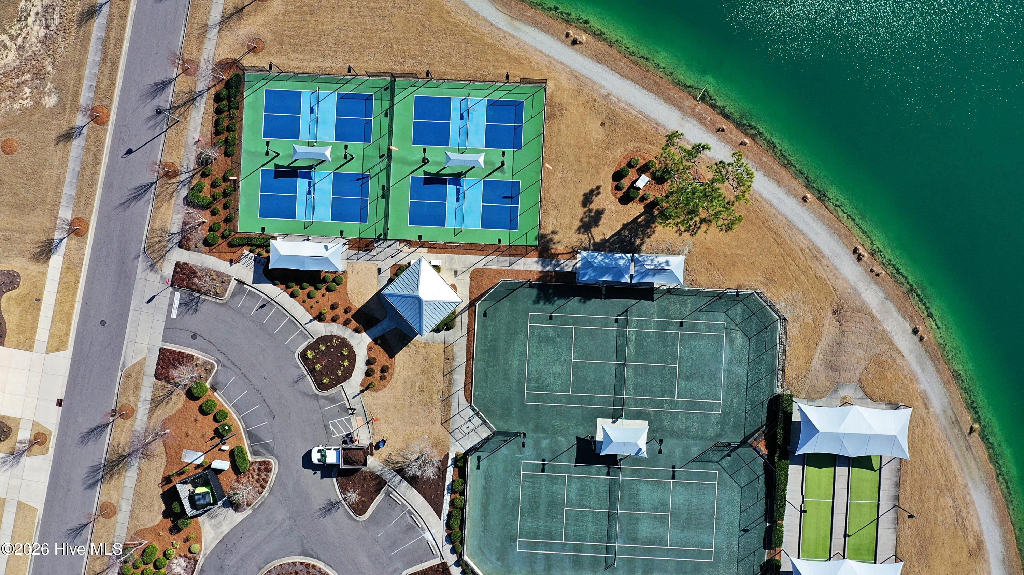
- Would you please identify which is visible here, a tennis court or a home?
tennis court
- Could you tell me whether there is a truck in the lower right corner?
No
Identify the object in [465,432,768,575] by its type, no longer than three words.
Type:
tennis court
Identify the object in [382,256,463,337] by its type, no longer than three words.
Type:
gazebo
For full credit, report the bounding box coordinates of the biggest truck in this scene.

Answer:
[313,443,371,468]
